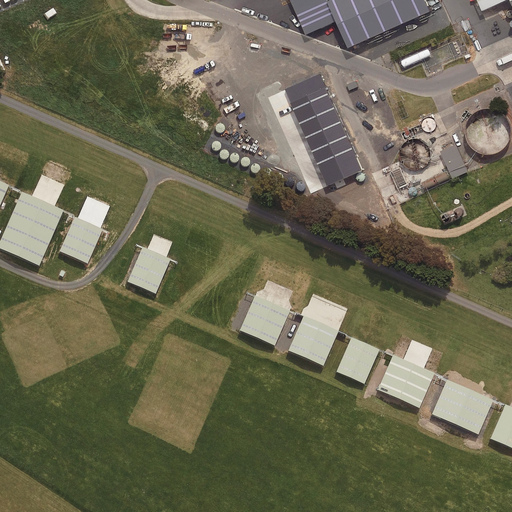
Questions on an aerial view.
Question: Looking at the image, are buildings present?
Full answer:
Yes, the frame does contain a building.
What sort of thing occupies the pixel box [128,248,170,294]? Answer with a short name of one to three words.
shed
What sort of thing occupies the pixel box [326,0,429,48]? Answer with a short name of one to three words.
building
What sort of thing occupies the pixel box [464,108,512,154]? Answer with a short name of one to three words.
storage tank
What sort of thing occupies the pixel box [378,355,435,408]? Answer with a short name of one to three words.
shed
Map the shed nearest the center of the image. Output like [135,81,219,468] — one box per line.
[240,296,290,345]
